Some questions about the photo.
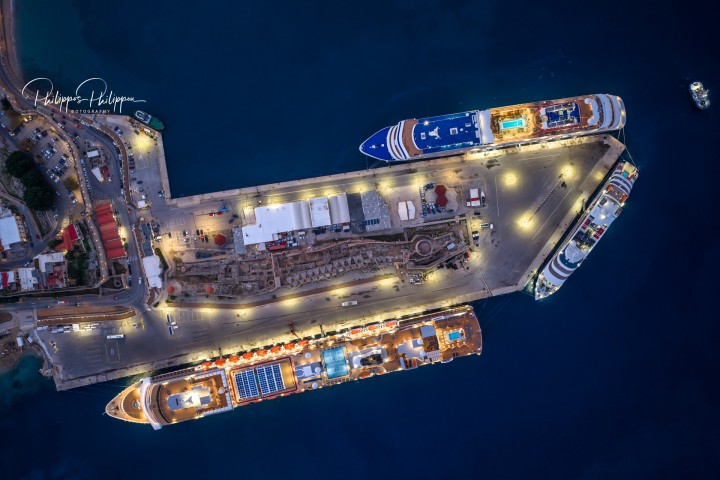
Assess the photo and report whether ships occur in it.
Yes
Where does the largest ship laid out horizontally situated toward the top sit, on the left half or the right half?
right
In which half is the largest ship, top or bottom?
bottom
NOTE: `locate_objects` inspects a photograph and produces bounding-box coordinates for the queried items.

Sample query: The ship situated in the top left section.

[131,105,165,129]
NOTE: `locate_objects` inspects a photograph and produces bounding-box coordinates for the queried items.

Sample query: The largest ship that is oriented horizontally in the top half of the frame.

[359,93,625,157]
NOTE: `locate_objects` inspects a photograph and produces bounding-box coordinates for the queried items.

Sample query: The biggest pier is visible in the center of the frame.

[34,134,625,391]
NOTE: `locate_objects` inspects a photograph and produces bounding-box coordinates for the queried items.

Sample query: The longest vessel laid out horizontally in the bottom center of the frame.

[105,309,482,431]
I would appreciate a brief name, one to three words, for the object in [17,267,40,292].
house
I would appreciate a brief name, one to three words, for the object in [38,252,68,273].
building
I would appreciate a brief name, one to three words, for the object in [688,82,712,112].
boat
